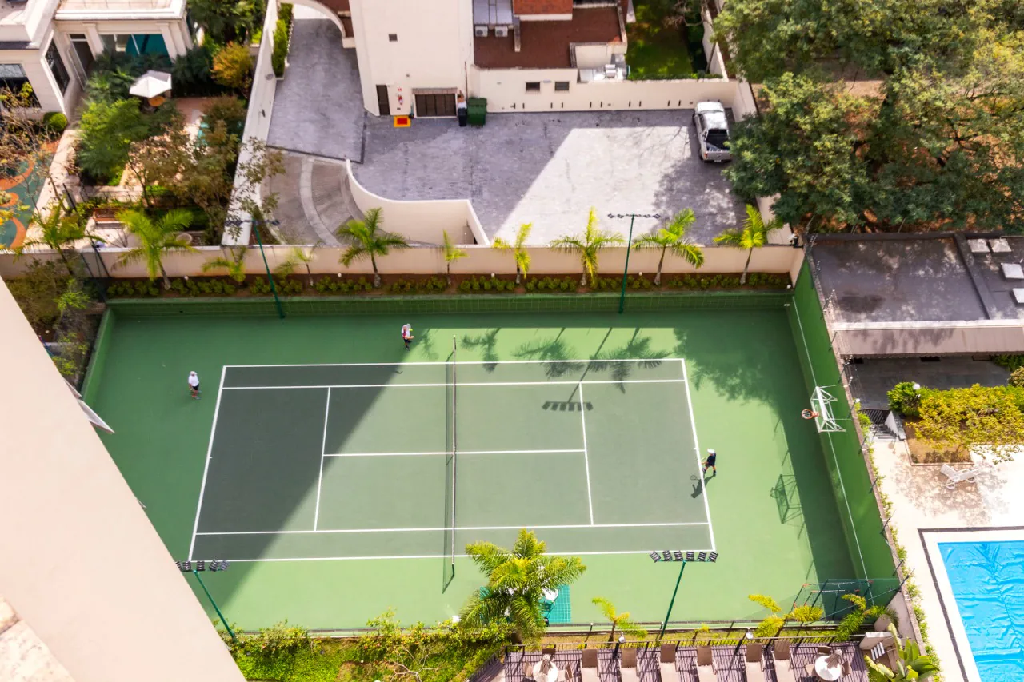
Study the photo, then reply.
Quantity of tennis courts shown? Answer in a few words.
1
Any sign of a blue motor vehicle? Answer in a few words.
No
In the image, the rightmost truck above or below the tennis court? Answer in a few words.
above it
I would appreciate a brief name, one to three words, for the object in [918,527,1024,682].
swimming pool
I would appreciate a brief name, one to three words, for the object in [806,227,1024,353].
building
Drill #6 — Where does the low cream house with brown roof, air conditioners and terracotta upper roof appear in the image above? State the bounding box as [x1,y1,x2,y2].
[473,0,625,114]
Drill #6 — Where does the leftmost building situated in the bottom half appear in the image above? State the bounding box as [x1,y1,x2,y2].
[0,260,234,682]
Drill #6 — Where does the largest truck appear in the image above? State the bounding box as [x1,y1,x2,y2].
[692,102,737,164]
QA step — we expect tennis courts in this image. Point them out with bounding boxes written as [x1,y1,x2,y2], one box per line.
[85,306,858,643]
